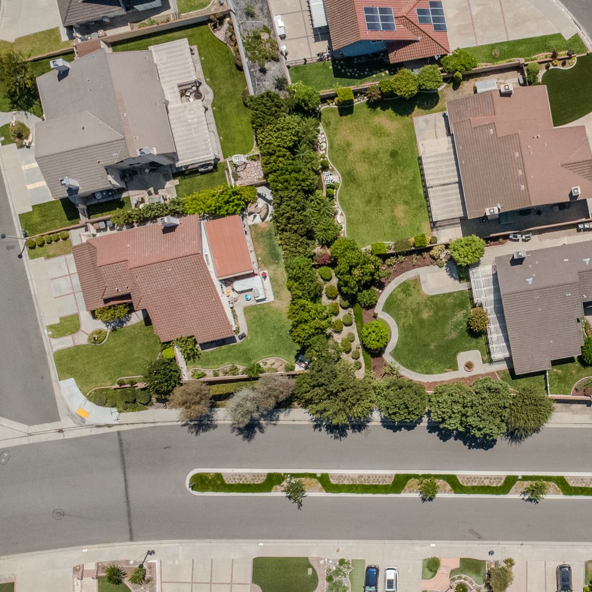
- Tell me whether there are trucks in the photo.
No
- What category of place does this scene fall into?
residential area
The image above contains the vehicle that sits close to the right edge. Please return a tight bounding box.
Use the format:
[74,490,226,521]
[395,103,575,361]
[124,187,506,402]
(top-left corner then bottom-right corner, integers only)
[556,563,574,592]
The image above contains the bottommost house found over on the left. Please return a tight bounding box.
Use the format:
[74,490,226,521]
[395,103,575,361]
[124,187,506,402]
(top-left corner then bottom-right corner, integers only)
[71,214,237,344]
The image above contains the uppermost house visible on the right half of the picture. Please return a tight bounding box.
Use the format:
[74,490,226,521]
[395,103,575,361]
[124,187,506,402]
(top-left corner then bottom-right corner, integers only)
[325,0,450,65]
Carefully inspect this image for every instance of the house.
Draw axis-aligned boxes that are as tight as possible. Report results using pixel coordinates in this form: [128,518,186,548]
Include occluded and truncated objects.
[71,214,237,344]
[35,47,184,199]
[446,82,592,222]
[495,240,592,375]
[57,0,132,28]
[325,0,450,65]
